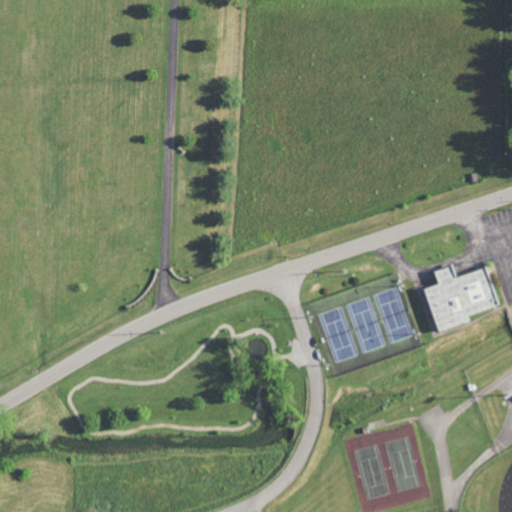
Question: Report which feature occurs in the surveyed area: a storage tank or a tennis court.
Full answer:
The one in the frame is a tennis court.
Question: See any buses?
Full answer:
No, I can see no bus in this picture.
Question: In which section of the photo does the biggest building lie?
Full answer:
Look in the right portion of the view to spot the biggest building.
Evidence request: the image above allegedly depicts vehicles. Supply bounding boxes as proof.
[312,336,318,347]
[316,348,322,358]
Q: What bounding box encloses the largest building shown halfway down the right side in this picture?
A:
[424,264,500,332]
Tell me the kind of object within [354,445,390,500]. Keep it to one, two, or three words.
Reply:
tennis court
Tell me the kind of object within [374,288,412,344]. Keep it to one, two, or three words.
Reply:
tennis court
